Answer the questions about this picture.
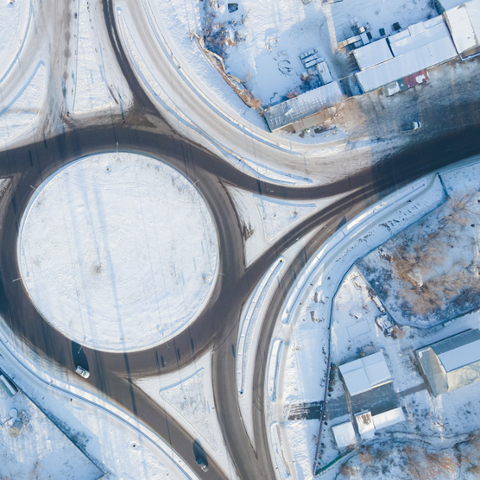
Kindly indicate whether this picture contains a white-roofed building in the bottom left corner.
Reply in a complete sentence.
No, I see no white-roofed building in the bottom left corner.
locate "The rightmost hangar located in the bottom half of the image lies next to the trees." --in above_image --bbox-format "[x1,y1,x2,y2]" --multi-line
[423,329,480,391]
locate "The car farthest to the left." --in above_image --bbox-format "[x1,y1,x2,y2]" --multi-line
[74,365,89,378]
